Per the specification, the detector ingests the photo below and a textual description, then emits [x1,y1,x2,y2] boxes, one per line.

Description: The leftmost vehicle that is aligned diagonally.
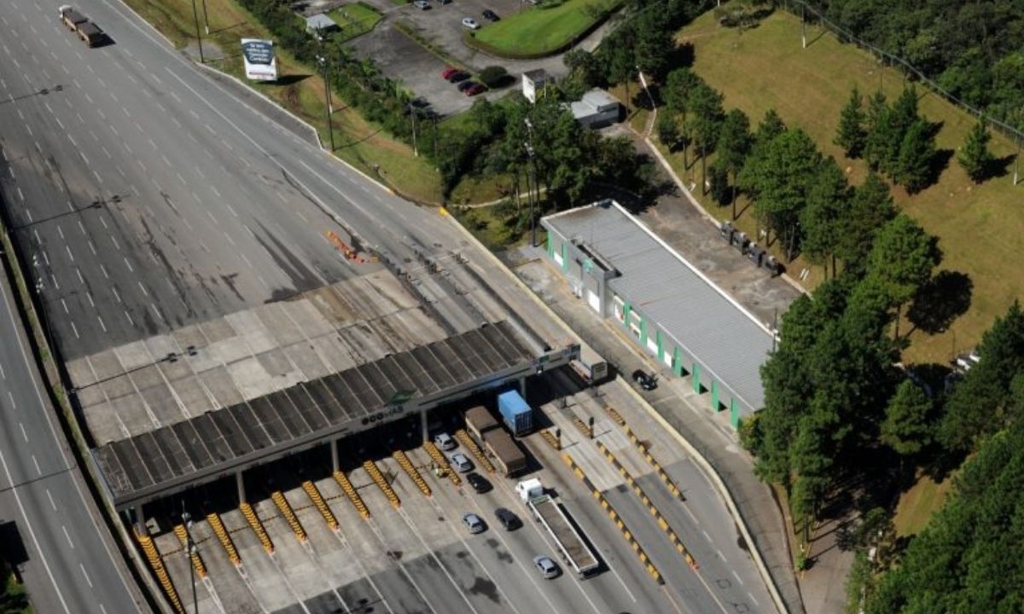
[61,7,104,53]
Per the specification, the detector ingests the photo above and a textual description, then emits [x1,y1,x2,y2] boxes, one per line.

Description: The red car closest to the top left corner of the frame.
[442,69,465,81]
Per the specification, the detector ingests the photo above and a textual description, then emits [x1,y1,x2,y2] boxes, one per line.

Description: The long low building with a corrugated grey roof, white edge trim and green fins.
[541,195,784,426]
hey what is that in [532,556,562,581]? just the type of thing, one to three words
car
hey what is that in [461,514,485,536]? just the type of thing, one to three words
car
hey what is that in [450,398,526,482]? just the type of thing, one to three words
truck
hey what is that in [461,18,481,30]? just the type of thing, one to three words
vehicle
